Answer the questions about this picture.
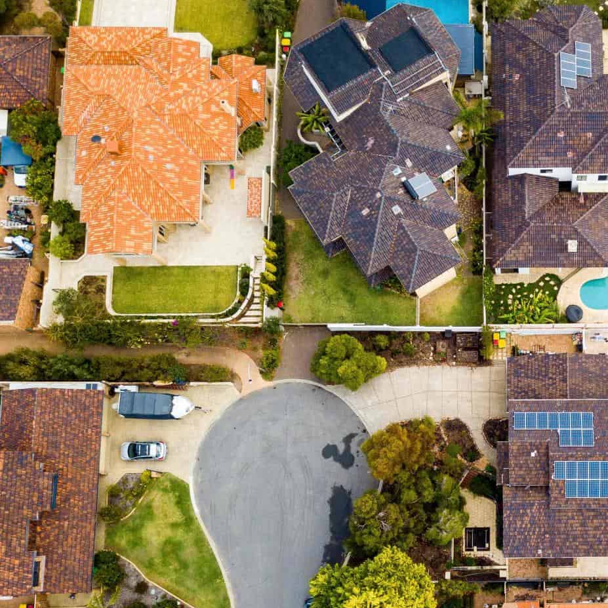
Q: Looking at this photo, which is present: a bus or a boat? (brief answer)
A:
boat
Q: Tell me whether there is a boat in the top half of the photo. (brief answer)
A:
No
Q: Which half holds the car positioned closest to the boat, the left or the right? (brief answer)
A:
left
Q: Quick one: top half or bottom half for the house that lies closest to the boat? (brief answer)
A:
bottom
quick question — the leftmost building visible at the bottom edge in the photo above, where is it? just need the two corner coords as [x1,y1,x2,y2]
[0,387,111,600]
